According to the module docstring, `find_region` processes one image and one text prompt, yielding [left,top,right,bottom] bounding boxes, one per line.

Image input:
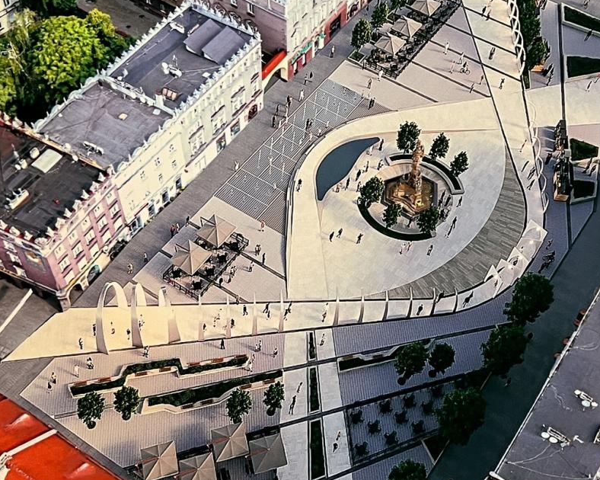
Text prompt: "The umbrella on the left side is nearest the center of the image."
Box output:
[195,216,237,249]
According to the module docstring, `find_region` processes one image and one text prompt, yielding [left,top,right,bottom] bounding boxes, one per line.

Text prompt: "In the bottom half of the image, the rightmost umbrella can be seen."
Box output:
[248,432,289,473]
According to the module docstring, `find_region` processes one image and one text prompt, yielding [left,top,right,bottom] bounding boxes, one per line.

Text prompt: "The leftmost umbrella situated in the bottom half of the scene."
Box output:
[137,440,180,480]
